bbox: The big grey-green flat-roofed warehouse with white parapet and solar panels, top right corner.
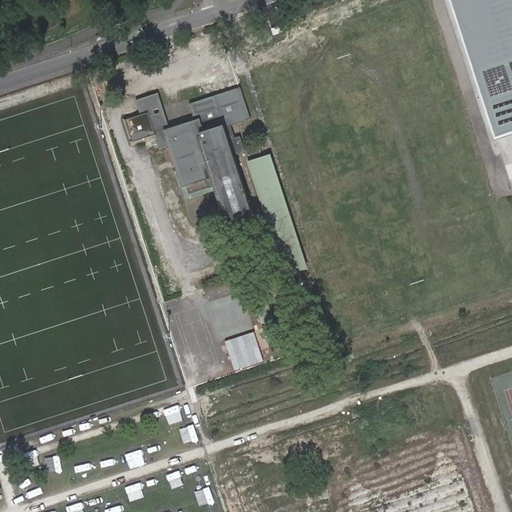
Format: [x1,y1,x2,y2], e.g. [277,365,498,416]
[446,0,512,138]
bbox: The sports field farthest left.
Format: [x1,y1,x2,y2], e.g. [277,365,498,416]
[0,84,178,443]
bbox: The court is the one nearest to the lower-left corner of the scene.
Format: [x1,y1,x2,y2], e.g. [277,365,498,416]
[174,304,218,370]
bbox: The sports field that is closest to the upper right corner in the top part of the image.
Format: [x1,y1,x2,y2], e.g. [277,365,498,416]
[240,0,512,342]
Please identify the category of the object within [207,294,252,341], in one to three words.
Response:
sports court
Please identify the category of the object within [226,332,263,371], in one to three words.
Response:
building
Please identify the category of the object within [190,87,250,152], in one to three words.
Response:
building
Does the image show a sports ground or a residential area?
sports ground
